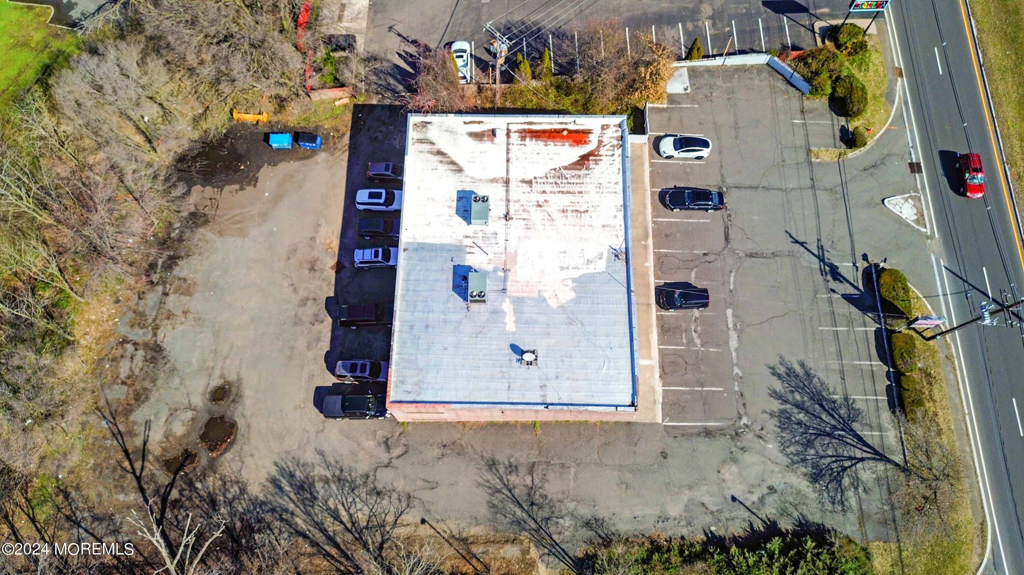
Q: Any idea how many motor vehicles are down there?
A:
twelve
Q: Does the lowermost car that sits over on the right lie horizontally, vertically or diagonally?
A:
horizontally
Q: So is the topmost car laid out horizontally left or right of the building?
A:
on the right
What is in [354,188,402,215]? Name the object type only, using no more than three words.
car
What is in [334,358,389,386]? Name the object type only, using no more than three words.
car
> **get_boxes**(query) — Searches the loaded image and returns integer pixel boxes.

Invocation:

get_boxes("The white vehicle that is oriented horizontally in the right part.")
[659,133,712,159]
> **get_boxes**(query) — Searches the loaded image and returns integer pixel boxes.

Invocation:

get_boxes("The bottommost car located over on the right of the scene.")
[659,285,711,311]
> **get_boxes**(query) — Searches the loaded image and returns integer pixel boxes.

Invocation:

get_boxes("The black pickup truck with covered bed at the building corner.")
[322,394,394,423]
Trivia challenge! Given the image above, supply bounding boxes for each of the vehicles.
[322,394,394,423]
[353,246,398,272]
[659,133,712,159]
[354,188,402,215]
[449,42,473,86]
[357,216,400,243]
[955,151,987,200]
[665,187,724,213]
[659,285,711,311]
[336,303,394,332]
[334,358,389,386]
[366,160,405,185]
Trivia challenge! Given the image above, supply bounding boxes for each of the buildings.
[385,115,637,425]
